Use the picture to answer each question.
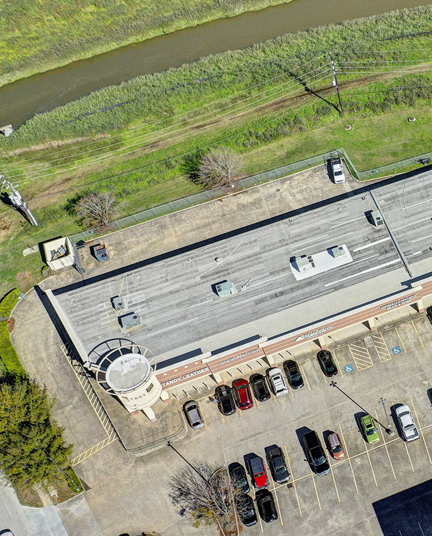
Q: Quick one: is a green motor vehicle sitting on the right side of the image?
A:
Yes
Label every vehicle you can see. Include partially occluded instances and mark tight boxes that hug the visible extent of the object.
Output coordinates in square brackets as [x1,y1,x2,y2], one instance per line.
[360,415,380,445]
[318,350,340,379]
[301,430,330,474]
[327,431,346,463]
[396,404,420,444]
[248,455,271,490]
[283,359,305,391]
[255,488,279,524]
[228,462,253,496]
[234,379,254,411]
[250,372,272,404]
[327,155,346,184]
[217,385,237,417]
[267,445,291,485]
[184,401,205,430]
[268,368,290,398]
[237,494,260,531]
